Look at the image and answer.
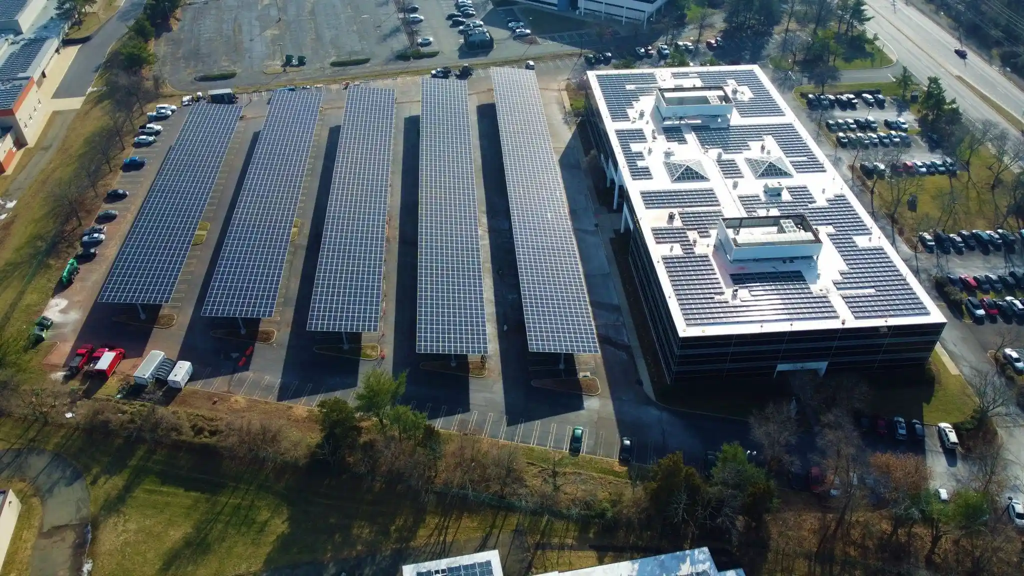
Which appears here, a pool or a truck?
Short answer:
truck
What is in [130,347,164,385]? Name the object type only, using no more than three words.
trailer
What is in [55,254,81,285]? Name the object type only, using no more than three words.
work vehicle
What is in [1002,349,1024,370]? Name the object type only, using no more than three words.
car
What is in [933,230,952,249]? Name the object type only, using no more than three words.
vehicle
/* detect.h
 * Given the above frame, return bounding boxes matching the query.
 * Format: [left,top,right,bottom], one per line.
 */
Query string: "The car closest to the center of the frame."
[570,427,584,454]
